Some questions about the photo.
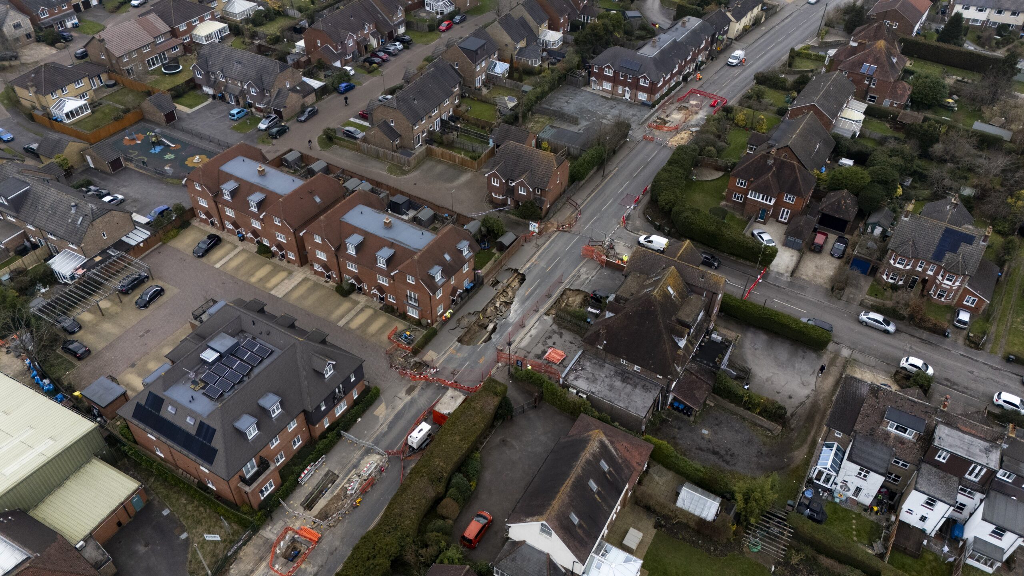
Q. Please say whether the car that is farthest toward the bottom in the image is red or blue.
red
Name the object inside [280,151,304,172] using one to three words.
shed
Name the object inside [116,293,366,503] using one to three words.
building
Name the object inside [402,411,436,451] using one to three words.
trailer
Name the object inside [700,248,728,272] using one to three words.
car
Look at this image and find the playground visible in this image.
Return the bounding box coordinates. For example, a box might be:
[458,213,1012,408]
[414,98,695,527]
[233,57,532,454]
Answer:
[112,122,215,180]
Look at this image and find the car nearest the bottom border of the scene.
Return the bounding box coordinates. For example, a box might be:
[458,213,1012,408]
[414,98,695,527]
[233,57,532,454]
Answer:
[462,509,495,549]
